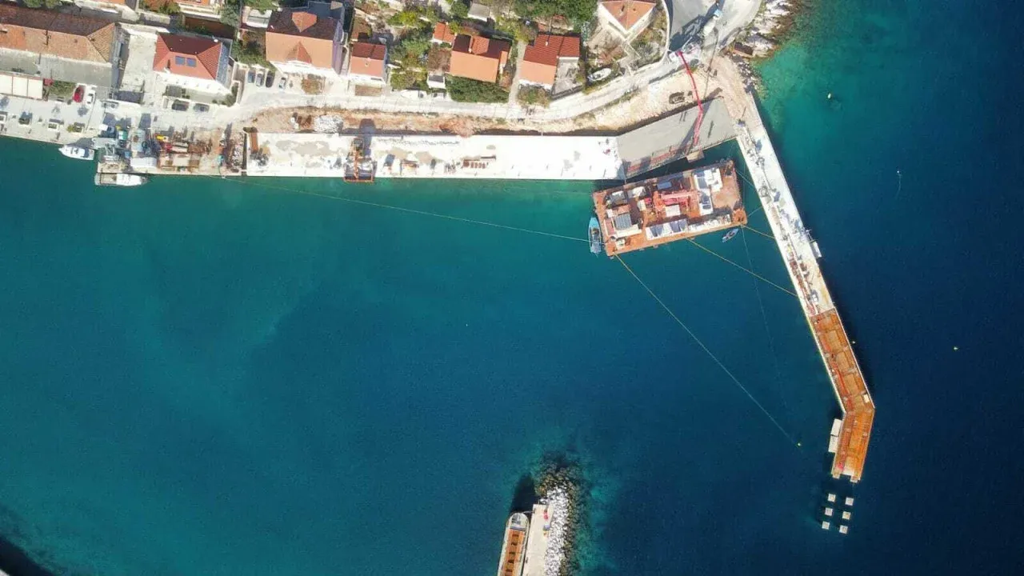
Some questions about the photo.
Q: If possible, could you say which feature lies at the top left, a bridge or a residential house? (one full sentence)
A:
The feature located at the top left is a residential house.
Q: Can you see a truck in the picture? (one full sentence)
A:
Yes, there's a truck here.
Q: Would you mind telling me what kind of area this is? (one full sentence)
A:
The picture captures a port.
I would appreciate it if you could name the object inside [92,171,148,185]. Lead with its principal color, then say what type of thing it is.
white boat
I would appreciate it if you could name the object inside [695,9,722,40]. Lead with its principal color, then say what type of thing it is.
white truck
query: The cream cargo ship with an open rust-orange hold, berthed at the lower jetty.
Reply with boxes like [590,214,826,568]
[495,511,527,576]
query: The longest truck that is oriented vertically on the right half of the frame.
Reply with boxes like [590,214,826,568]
[669,45,710,147]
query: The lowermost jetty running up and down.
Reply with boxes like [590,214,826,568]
[522,503,554,576]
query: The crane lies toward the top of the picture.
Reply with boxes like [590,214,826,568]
[651,188,699,216]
